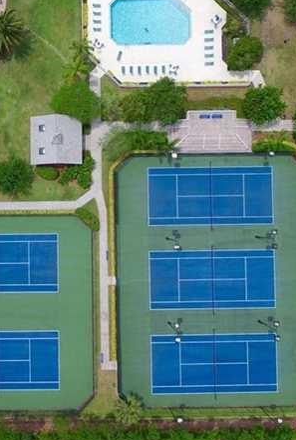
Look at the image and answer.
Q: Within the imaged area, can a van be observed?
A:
No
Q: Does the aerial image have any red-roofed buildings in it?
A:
No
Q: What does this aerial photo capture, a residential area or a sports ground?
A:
sports ground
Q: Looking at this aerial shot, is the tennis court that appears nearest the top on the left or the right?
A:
right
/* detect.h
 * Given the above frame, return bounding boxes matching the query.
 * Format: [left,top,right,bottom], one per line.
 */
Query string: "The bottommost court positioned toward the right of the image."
[119,323,296,407]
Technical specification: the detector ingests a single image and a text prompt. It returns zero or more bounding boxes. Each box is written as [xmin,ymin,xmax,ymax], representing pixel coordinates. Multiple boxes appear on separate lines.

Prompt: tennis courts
[119,323,296,407]
[0,313,93,410]
[118,238,296,323]
[0,213,92,313]
[116,156,296,238]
